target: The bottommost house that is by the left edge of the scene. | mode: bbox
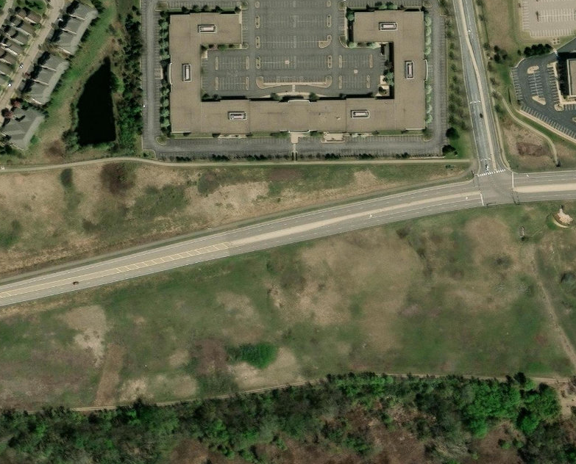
[2,108,45,148]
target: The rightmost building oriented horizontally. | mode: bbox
[169,10,427,134]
